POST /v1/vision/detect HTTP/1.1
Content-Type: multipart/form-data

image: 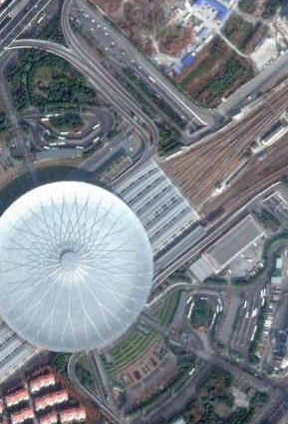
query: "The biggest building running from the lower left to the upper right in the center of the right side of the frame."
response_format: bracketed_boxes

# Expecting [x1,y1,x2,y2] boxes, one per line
[203,214,266,269]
